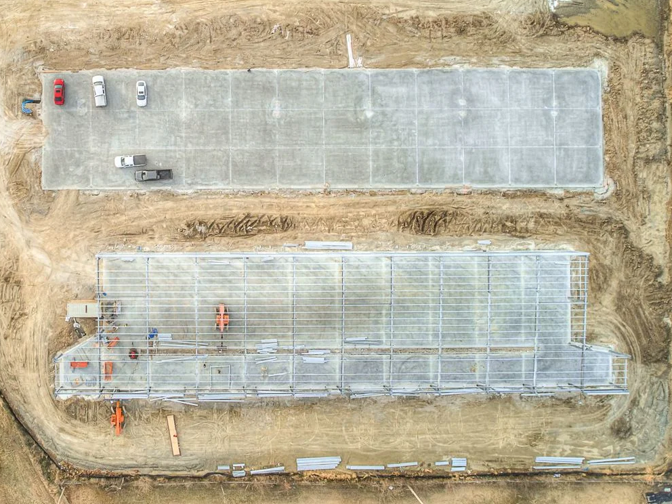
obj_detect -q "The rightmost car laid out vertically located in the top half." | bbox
[134,79,148,107]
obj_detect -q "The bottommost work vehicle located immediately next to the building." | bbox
[109,397,126,439]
